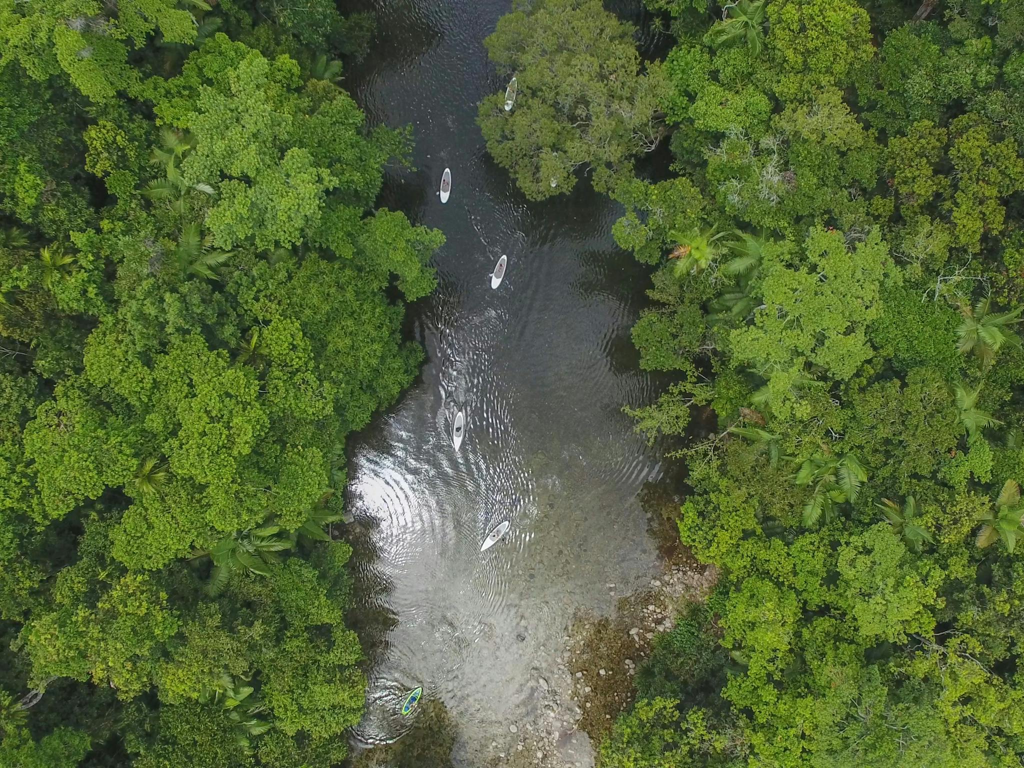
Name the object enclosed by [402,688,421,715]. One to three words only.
boat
